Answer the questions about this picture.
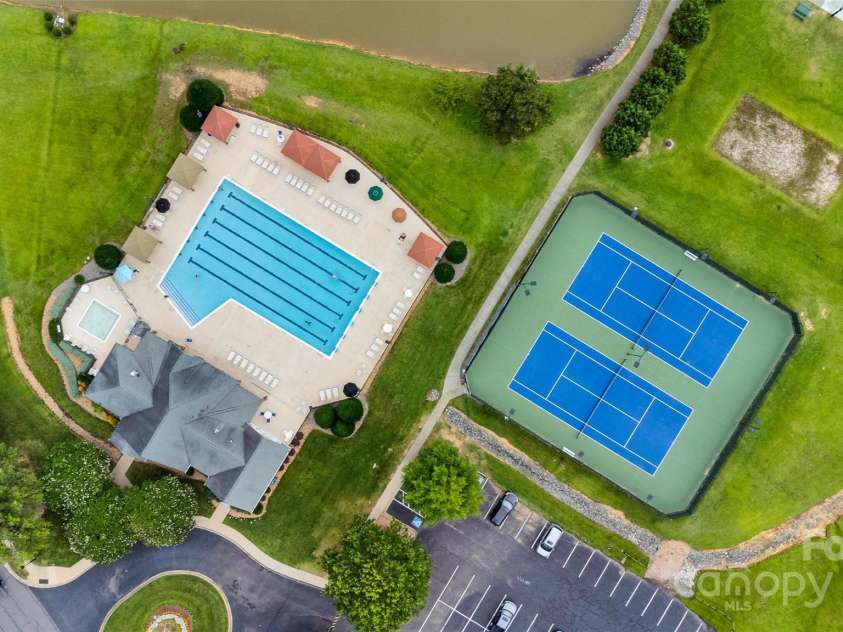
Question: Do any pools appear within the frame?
Yes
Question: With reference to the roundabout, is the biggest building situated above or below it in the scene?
above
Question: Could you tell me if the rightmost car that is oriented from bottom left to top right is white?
Yes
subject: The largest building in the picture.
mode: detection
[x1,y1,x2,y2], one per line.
[86,331,291,514]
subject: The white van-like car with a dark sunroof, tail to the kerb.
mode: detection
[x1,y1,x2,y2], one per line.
[536,526,564,561]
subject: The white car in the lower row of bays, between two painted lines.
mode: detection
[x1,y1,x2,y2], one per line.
[487,602,515,632]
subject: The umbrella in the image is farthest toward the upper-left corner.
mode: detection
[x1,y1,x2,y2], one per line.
[157,199,171,212]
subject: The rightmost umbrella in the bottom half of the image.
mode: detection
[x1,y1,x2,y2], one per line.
[344,382,358,397]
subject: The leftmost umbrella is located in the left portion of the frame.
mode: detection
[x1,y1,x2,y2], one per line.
[116,265,134,284]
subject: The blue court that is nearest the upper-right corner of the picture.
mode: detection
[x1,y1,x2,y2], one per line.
[562,233,749,388]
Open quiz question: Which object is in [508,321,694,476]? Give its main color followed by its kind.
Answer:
blue tennis court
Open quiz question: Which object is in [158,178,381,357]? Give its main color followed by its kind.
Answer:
blue swimming pool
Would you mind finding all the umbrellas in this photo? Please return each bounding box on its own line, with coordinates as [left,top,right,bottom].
[157,199,171,212]
[393,208,407,223]
[369,187,383,201]
[116,265,134,284]
[344,382,358,397]
[346,170,360,184]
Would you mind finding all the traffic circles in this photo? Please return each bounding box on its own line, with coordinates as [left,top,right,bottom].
[99,569,233,632]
